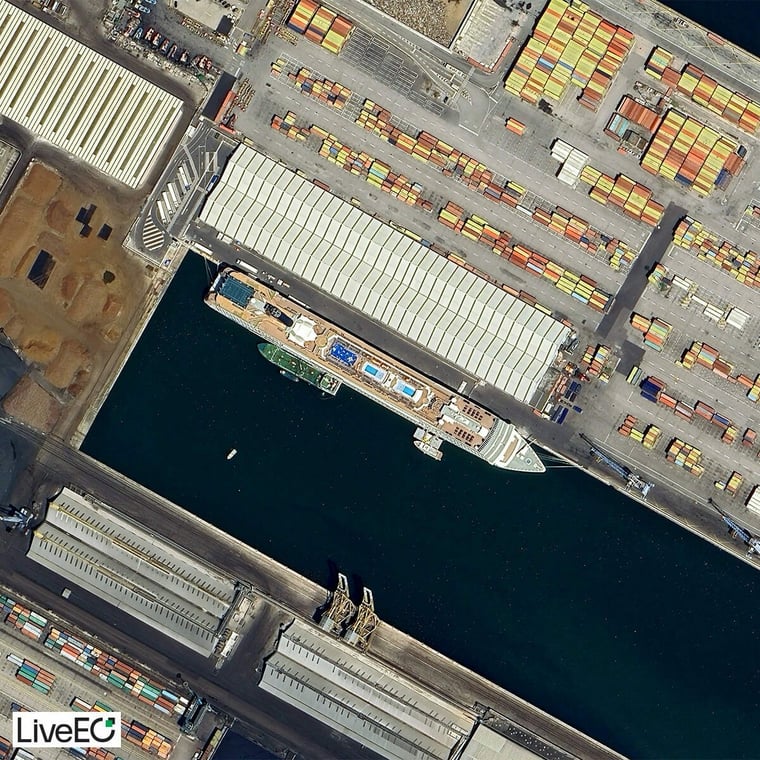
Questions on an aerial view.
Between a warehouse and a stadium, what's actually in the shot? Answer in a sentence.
I can see a warehouse in this picture.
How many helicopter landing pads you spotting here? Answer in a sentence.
The picture shows no helicopter landing pads.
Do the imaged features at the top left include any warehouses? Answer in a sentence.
Yes, at the top left there is a warehouse.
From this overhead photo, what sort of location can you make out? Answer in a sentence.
It's a port.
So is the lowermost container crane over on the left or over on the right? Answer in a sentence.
The lowermost container crane is on the left side of the image.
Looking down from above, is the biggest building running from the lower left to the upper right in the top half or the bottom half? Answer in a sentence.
You can find the biggest building running from the lower left to the upper right in the top half.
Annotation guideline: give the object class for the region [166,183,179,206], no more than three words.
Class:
vehicle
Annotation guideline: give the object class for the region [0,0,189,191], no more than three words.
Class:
warehouse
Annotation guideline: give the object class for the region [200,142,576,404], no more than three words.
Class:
warehouse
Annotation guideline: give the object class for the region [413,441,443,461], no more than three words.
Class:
boat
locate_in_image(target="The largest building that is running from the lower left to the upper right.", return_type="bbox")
[201,71,240,122]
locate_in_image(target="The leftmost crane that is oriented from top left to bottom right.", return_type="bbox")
[589,448,658,503]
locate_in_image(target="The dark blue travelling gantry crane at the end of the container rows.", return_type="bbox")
[170,686,222,736]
